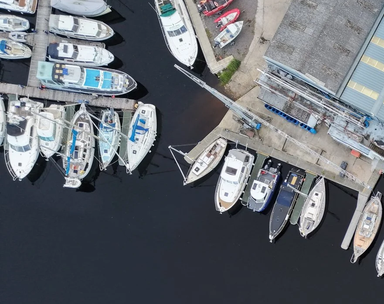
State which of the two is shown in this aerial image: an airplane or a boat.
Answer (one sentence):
Looking from above, you can make out a boat.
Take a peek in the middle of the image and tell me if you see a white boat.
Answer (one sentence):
Yes, a white boat shows up in the middle of the image.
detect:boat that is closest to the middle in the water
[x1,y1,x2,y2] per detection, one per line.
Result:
[166,141,230,186]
